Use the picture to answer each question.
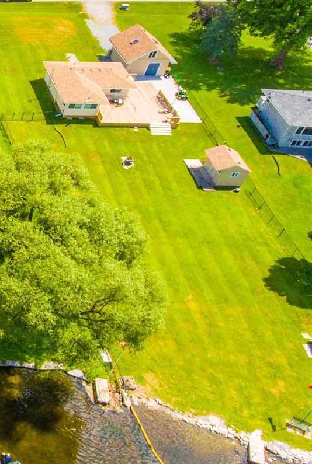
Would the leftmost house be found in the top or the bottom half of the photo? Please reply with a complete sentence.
It is in the top half that the leftmost house appears.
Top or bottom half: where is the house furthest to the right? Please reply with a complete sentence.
The house furthest to the right is in the top half of the image.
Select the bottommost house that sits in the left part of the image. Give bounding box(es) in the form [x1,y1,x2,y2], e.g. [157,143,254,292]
[40,57,145,121]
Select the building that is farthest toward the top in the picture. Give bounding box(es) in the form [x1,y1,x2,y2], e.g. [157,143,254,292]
[108,11,188,75]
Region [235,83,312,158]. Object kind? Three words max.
house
